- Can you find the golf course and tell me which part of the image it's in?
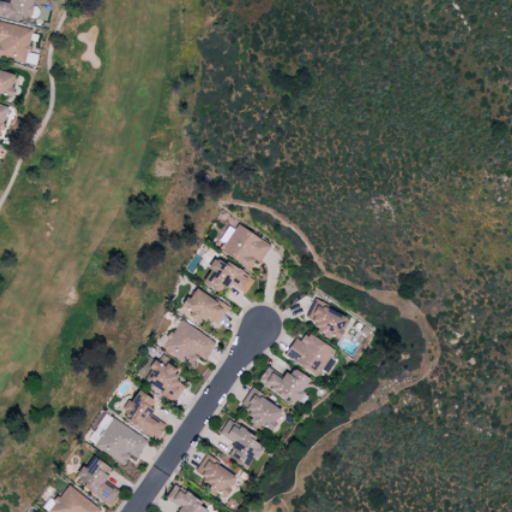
left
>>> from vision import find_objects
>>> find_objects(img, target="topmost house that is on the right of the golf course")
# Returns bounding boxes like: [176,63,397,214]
[222,224,270,268]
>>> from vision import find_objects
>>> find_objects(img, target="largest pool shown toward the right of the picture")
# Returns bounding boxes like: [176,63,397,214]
[338,337,358,356]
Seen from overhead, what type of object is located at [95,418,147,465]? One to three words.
house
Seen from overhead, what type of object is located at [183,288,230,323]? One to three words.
house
